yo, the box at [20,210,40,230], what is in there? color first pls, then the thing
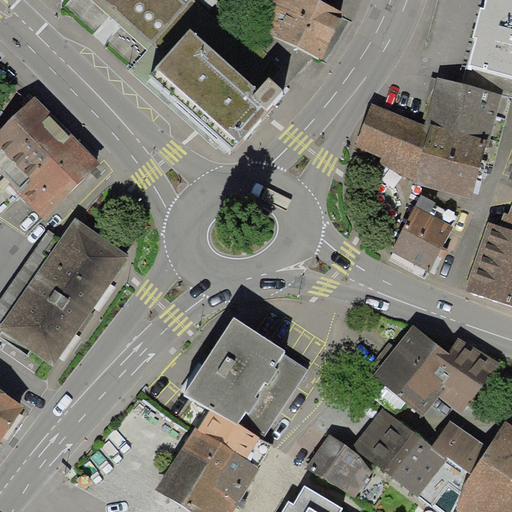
white car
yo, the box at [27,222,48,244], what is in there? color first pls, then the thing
white car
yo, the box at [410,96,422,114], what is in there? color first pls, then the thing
black vehicle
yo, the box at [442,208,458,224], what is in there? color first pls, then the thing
white umbrella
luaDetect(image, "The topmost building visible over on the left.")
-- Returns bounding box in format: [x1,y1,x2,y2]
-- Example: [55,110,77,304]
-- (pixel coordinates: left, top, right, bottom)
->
[91,0,196,45]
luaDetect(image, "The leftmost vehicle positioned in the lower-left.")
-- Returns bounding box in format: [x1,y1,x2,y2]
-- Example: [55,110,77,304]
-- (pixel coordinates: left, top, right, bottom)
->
[23,390,46,408]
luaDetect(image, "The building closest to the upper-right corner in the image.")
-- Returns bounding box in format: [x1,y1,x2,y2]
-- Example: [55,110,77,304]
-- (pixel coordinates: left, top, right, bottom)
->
[461,0,512,84]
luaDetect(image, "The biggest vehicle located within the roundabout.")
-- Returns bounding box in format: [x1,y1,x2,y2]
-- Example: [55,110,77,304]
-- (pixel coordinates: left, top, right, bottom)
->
[249,182,293,210]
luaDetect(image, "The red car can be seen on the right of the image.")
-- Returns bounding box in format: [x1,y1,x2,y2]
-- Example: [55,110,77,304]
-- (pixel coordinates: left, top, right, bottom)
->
[385,84,400,106]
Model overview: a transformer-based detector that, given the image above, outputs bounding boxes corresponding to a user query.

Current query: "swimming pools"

[422,460,468,512]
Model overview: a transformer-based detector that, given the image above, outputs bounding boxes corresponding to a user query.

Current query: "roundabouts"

[164,158,322,298]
